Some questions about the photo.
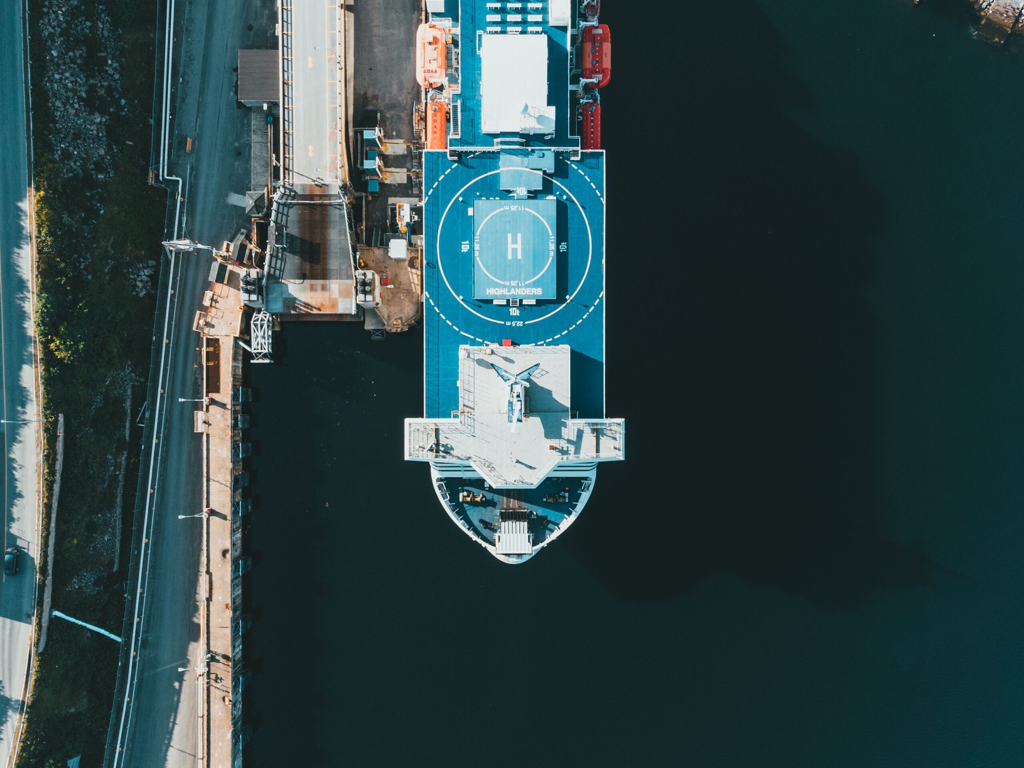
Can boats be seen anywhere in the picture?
Yes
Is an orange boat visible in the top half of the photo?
Yes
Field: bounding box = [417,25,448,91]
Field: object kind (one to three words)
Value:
boat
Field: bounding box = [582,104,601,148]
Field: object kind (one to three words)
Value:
boat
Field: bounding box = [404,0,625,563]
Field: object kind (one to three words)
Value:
ship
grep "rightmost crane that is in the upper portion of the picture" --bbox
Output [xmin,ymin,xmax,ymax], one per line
[387,203,421,245]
